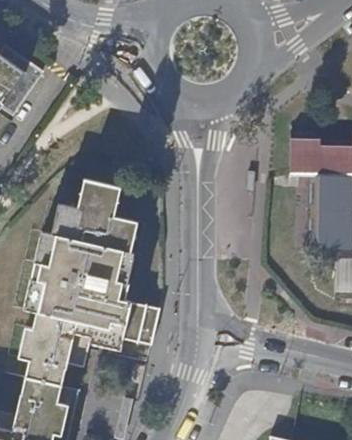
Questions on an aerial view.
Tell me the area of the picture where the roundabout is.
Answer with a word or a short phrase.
top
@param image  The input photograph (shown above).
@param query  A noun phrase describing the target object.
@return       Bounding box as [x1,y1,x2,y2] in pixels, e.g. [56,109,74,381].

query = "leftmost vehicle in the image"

[0,124,16,144]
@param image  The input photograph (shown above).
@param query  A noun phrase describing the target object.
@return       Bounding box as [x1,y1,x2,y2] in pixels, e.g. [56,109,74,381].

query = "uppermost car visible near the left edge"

[16,102,32,120]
